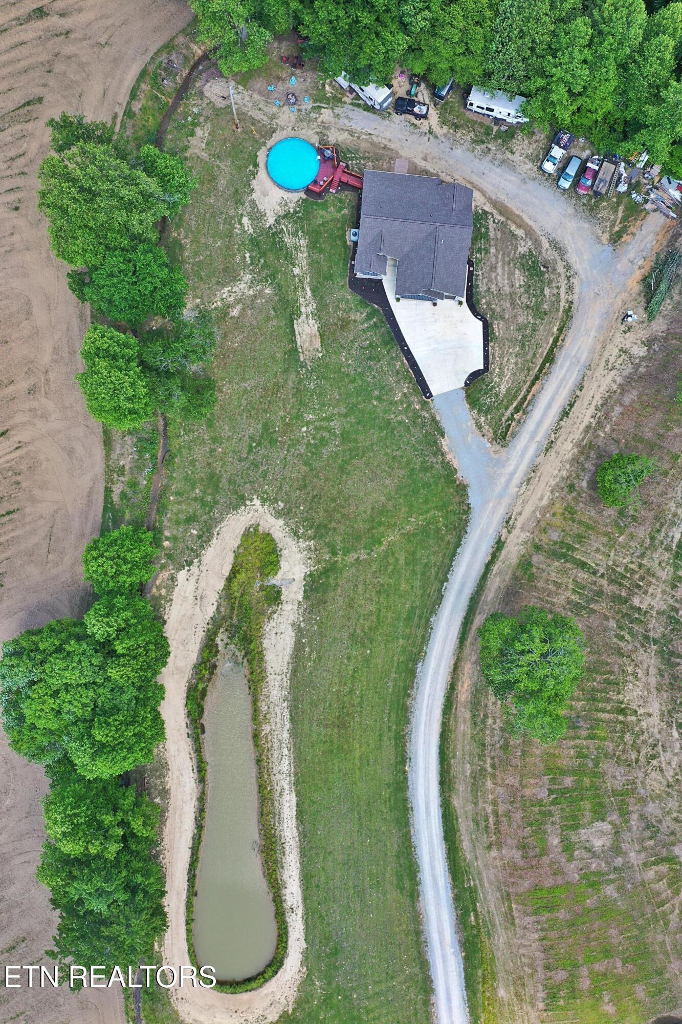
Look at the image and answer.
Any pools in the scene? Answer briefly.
Yes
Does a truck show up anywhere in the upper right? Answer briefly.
Yes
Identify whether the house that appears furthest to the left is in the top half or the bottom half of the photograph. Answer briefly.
top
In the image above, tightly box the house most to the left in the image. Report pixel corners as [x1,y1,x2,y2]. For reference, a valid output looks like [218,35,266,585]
[353,169,474,305]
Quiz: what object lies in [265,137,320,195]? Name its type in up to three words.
swimming pool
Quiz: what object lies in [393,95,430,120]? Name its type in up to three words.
truck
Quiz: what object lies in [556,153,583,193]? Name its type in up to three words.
car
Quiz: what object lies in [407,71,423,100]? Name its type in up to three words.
work vehicle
